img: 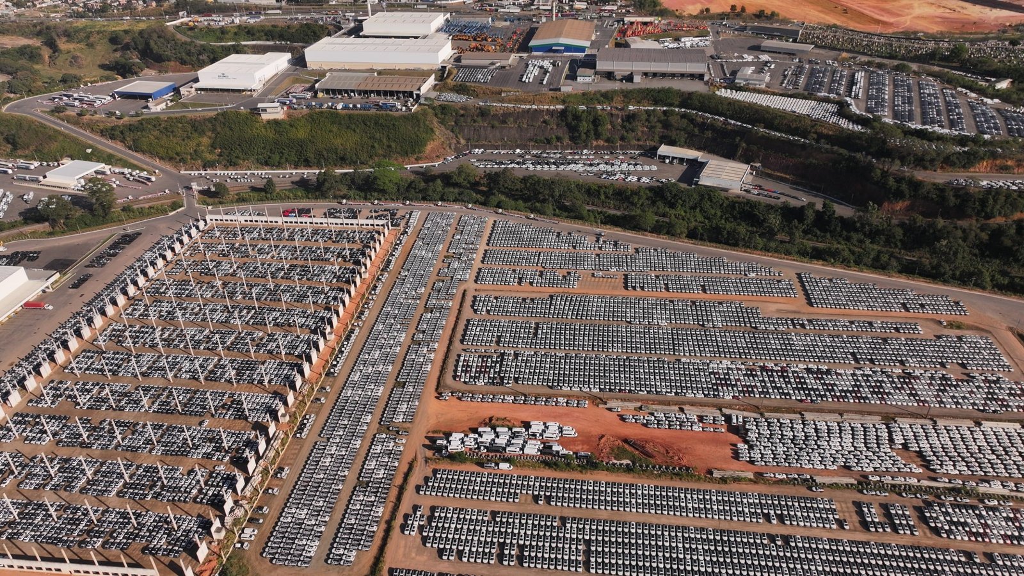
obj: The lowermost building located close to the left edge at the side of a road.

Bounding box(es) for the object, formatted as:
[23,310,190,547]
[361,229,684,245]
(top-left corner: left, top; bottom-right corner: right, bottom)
[0,265,66,323]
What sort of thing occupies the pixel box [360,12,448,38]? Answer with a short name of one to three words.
building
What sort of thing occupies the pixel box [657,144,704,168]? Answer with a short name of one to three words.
shed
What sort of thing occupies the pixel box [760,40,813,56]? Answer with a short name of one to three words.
shed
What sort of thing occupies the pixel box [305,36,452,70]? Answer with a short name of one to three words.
building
